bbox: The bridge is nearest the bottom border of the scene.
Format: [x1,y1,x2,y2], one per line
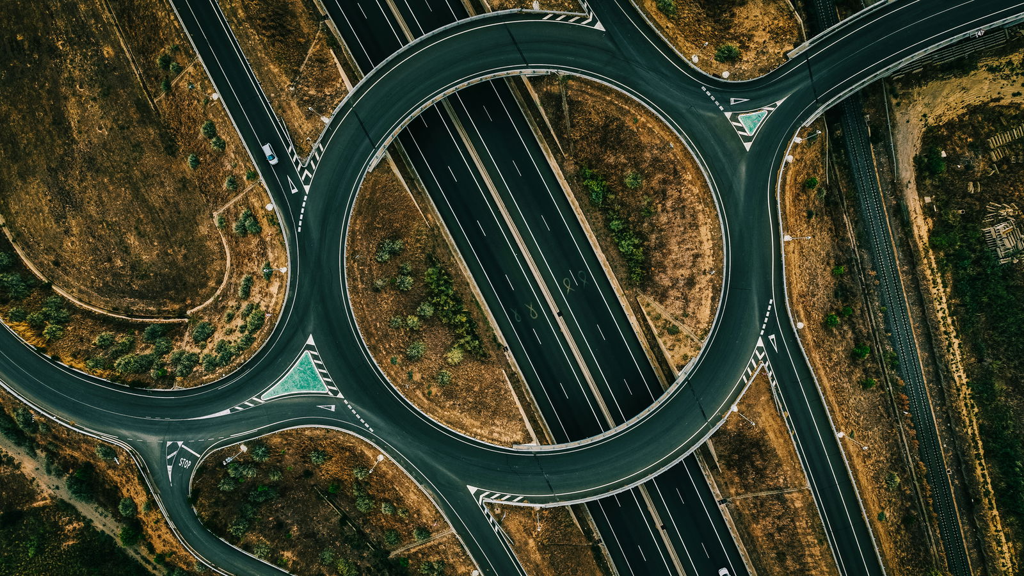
[511,354,729,510]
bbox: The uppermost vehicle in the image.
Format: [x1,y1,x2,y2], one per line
[261,142,277,164]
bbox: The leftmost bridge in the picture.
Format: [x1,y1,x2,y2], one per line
[333,6,551,165]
